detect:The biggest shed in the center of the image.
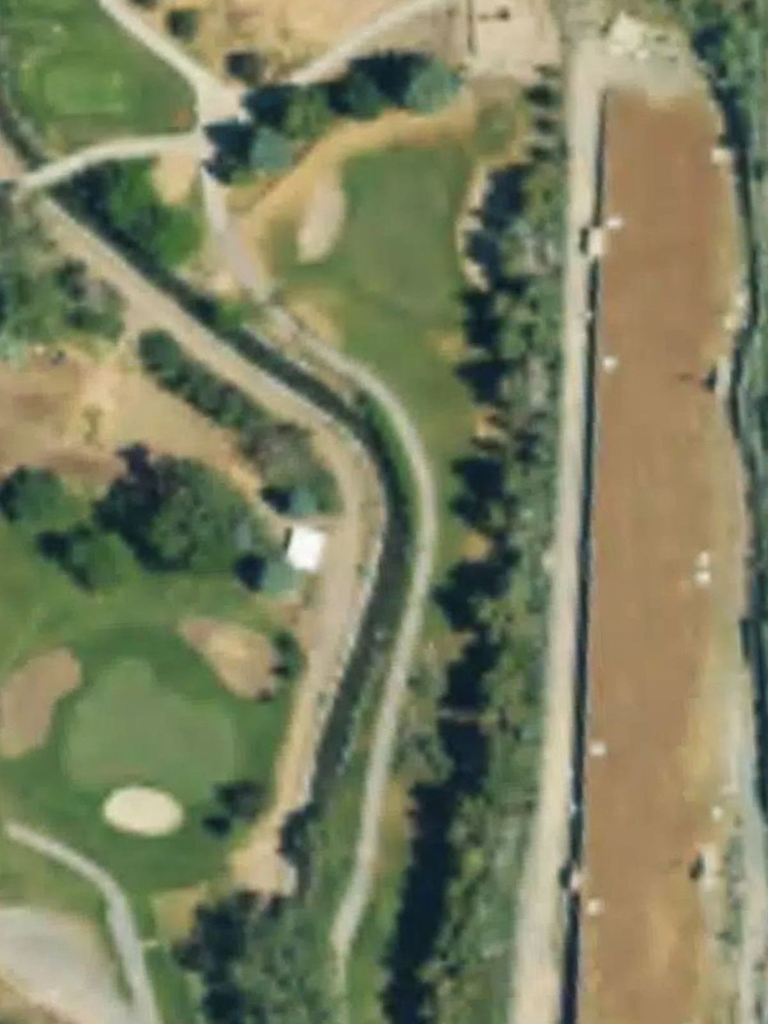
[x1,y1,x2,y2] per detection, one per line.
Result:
[287,526,326,569]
